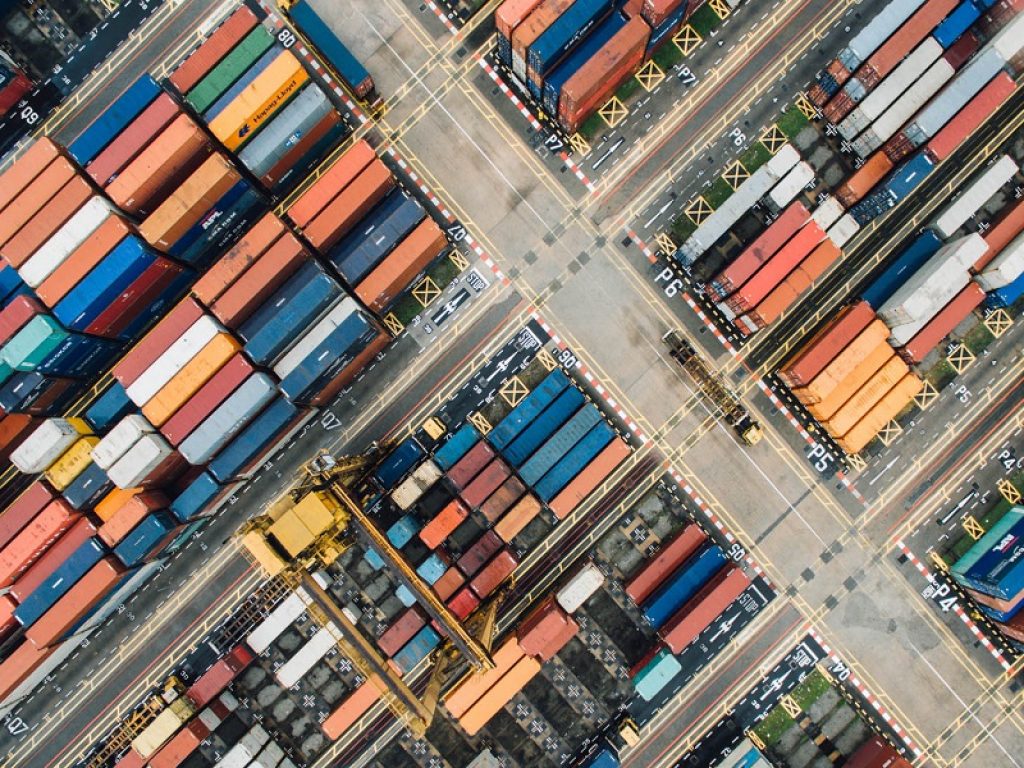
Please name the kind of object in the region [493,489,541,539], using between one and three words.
shipping container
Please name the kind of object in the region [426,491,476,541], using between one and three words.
shipping container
